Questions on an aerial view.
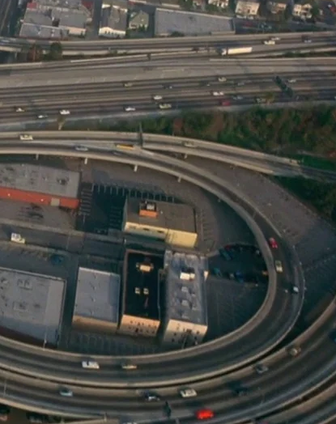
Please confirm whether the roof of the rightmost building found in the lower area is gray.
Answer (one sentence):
Yes, the roof of the rightmost building found in the lower area appears gray.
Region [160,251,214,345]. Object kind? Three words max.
building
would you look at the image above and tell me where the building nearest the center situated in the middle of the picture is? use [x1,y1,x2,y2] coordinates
[121,194,198,247]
